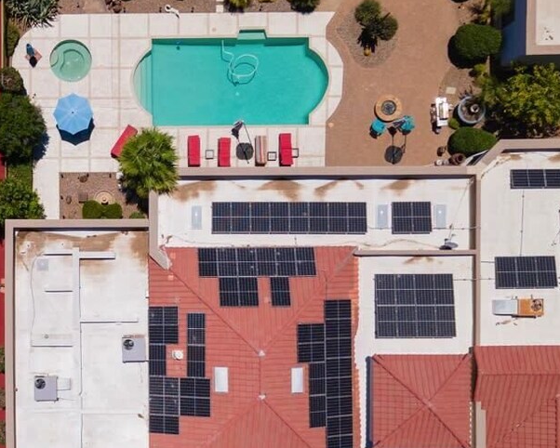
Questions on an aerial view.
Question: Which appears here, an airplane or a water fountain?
water fountain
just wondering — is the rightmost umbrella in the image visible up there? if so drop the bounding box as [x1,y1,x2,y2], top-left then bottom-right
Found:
[385,118,409,164]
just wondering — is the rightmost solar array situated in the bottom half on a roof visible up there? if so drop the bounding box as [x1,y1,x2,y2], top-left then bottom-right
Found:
[494,257,558,288]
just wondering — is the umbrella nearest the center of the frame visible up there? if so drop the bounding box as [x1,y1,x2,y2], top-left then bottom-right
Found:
[232,120,254,160]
